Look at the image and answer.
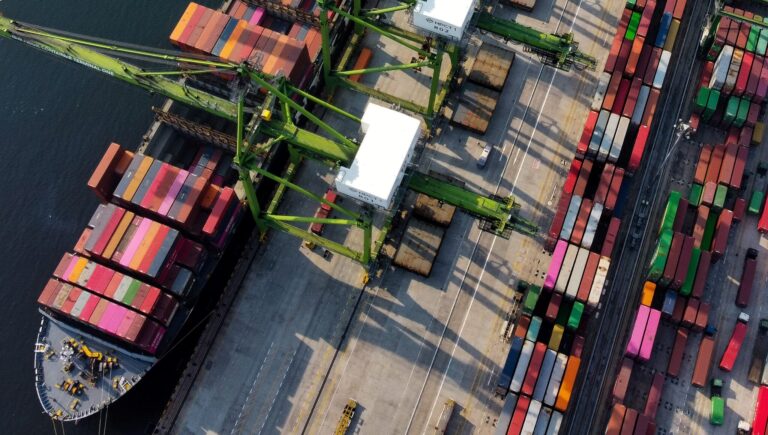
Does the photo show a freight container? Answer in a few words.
Yes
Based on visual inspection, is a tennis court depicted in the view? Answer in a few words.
No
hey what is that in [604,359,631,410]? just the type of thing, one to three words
shipping container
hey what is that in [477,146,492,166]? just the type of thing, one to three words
vehicle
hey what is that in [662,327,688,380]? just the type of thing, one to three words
shipping container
